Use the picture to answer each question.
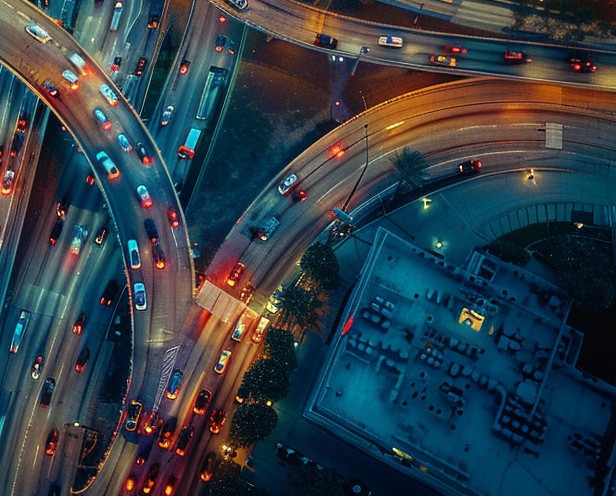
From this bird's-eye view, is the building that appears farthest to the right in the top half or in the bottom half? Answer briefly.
bottom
